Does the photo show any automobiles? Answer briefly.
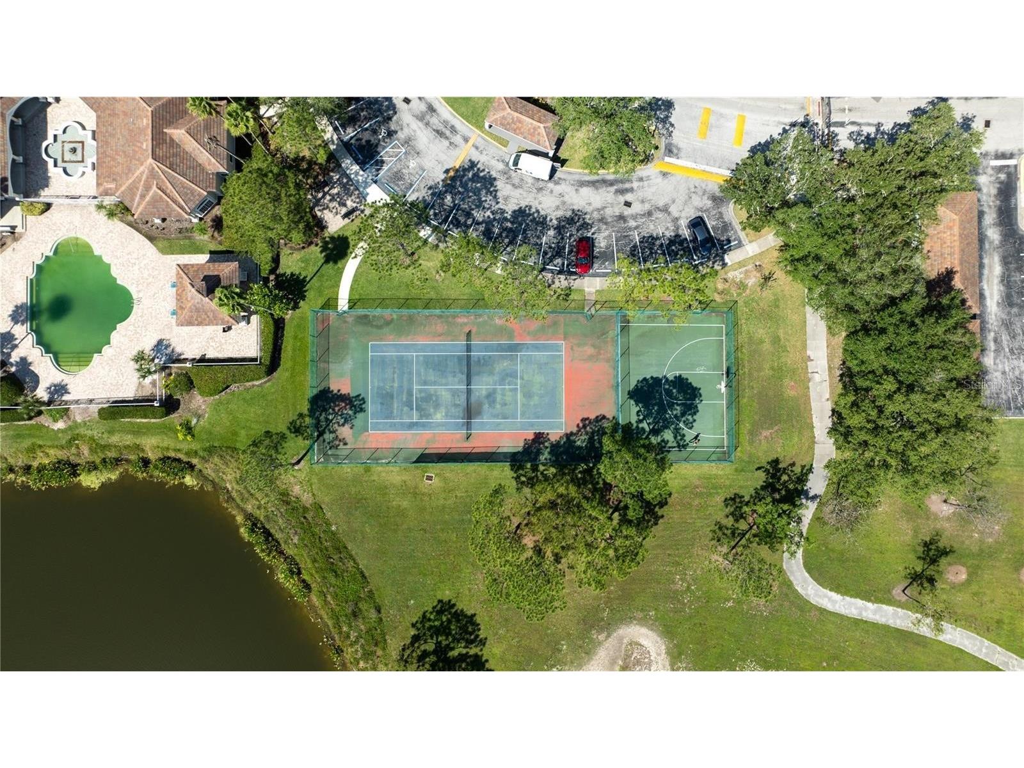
Yes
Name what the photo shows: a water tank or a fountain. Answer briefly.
fountain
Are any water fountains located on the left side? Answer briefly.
Yes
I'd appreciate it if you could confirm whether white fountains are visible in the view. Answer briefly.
Yes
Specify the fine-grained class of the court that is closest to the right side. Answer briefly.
basketball court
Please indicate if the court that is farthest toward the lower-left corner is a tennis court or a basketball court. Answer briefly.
tennis court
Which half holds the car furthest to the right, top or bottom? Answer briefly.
top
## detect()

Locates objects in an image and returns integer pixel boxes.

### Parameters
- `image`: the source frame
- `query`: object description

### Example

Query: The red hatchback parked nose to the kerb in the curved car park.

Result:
[575,237,593,275]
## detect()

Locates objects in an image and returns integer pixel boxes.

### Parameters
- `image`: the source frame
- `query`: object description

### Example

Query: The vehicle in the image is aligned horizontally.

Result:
[508,153,562,182]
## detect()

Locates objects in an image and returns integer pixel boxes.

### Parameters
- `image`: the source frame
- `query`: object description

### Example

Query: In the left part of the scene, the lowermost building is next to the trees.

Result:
[175,263,247,327]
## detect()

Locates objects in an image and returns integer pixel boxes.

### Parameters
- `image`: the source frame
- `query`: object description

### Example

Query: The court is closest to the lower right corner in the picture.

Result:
[618,314,728,462]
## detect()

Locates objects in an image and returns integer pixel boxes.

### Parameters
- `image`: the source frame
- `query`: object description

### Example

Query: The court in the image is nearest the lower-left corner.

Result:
[317,314,618,462]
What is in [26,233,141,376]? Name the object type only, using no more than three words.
swimming pool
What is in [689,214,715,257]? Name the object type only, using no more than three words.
car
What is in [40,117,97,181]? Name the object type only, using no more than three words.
fountain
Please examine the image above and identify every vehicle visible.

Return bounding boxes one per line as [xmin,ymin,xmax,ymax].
[508,153,562,182]
[689,214,715,257]
[575,237,593,275]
